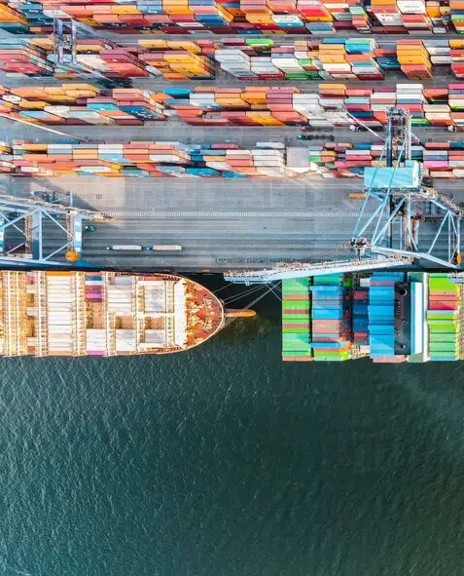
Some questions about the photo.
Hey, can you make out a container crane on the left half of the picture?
Yes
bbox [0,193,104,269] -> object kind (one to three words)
container crane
